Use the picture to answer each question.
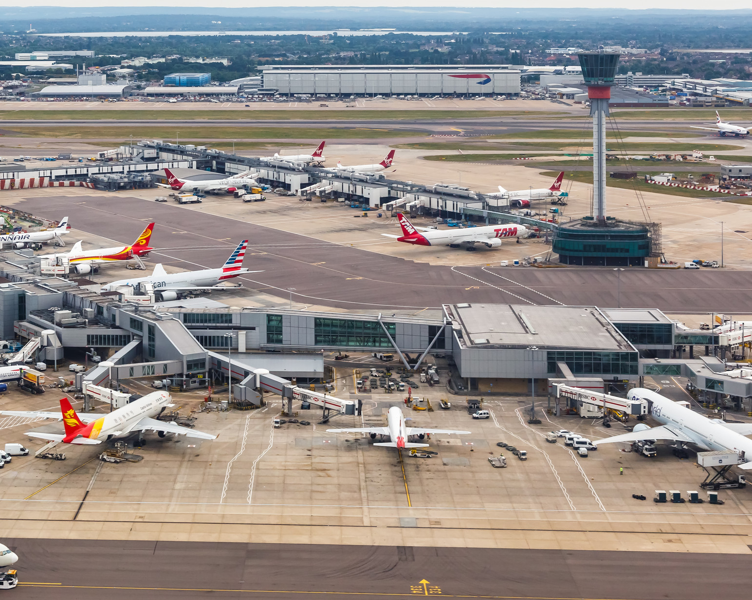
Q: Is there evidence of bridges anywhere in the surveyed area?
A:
Yes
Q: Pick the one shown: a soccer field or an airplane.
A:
airplane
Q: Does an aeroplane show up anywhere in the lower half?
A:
Yes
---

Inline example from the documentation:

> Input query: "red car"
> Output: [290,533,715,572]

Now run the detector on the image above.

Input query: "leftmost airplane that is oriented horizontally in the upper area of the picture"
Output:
[1,223,79,254]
